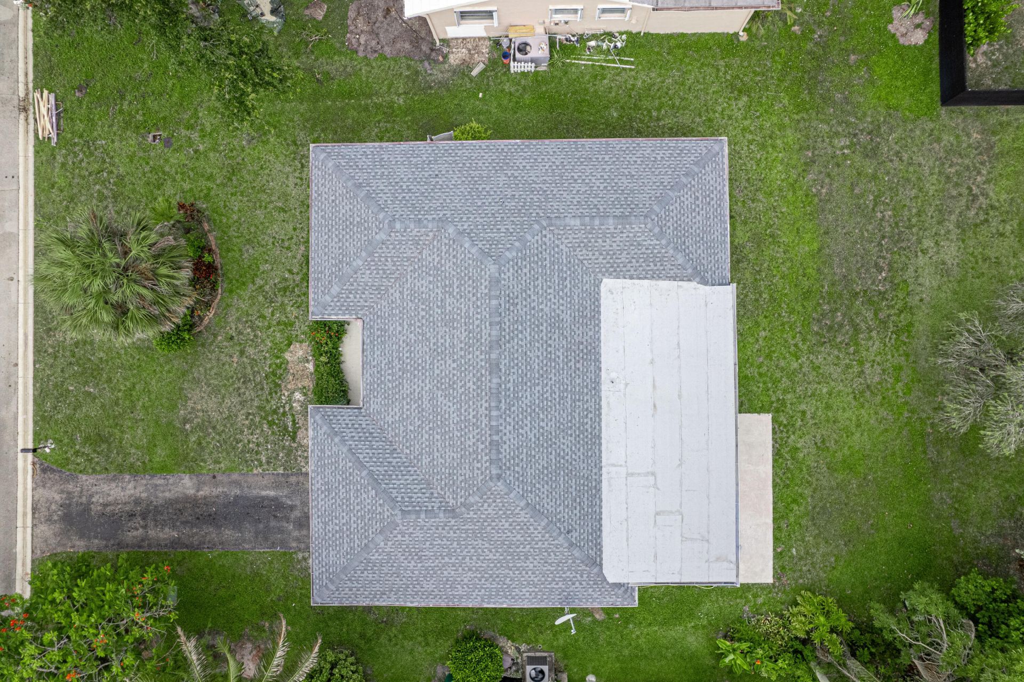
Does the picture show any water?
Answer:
No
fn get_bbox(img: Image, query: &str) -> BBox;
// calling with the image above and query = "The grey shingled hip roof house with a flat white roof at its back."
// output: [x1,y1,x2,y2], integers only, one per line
[309,137,740,606]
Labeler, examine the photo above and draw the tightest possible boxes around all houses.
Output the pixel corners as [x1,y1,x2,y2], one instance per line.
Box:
[403,0,779,44]
[309,137,740,606]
